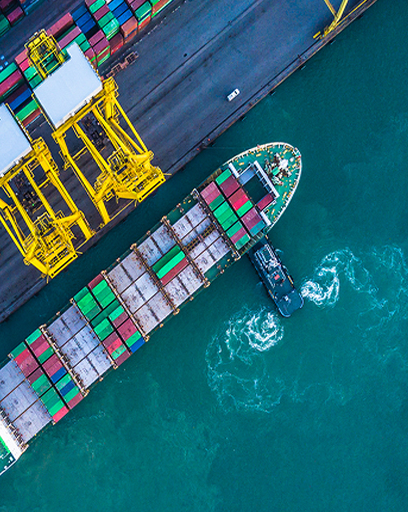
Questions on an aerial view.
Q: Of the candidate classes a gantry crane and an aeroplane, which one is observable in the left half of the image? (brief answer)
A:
gantry crane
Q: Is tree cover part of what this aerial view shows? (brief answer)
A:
No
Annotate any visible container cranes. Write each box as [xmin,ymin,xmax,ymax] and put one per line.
[0,105,99,283]
[313,0,369,44]
[18,28,173,231]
